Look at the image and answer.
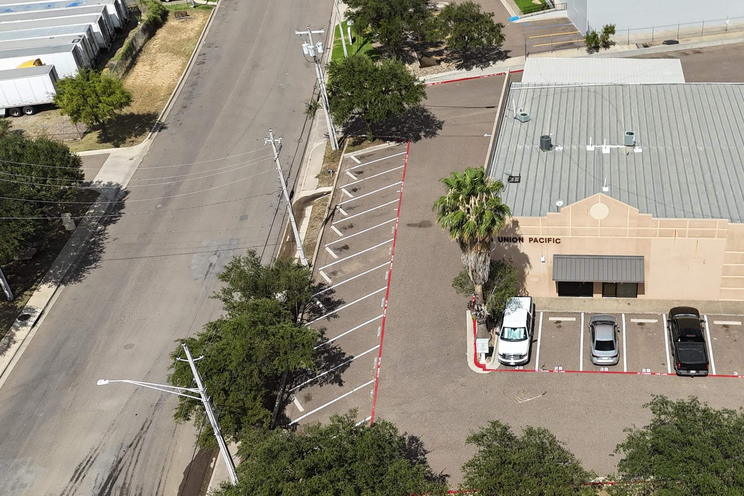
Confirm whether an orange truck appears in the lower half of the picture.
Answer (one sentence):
No, there's no orange truck to be seen in the lower half of the picture.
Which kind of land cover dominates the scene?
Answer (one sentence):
What you mostly see from above here is paved ground.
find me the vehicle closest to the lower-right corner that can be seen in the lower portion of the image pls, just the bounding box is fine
[667,313,706,377]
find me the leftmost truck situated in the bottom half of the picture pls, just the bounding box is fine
[495,298,534,365]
